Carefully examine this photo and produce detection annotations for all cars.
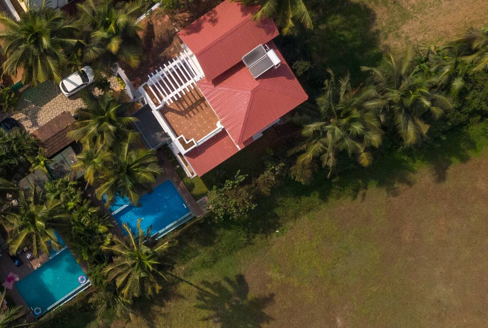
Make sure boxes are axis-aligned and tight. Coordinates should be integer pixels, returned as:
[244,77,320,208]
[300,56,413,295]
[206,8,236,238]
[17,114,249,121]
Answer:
[0,118,20,143]
[57,67,94,98]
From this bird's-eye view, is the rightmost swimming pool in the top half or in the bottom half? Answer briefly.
bottom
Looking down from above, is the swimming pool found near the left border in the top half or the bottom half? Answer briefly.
bottom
